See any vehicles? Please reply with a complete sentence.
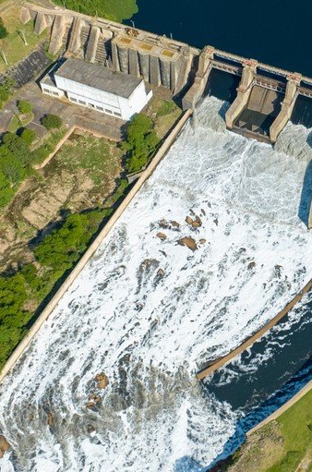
No, I can't see a single vehicle in this photo.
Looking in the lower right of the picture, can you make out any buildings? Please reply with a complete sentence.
No, no building can be made out in the lower right of the picture.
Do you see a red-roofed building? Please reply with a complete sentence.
No, I find no red-roofed building anywhere in the image.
